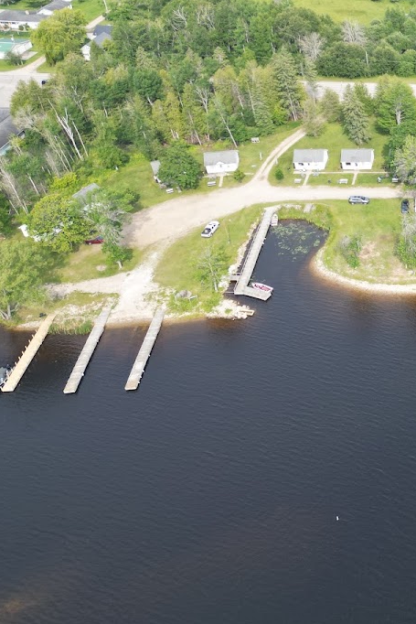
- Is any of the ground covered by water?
Yes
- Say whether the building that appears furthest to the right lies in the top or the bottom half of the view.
top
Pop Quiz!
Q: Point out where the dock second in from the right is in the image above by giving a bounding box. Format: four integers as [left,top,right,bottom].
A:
[125,315,165,391]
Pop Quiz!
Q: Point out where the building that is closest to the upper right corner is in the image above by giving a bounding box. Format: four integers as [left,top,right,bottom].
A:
[339,145,378,172]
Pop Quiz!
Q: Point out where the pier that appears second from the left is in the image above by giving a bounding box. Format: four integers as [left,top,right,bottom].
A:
[64,316,109,393]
